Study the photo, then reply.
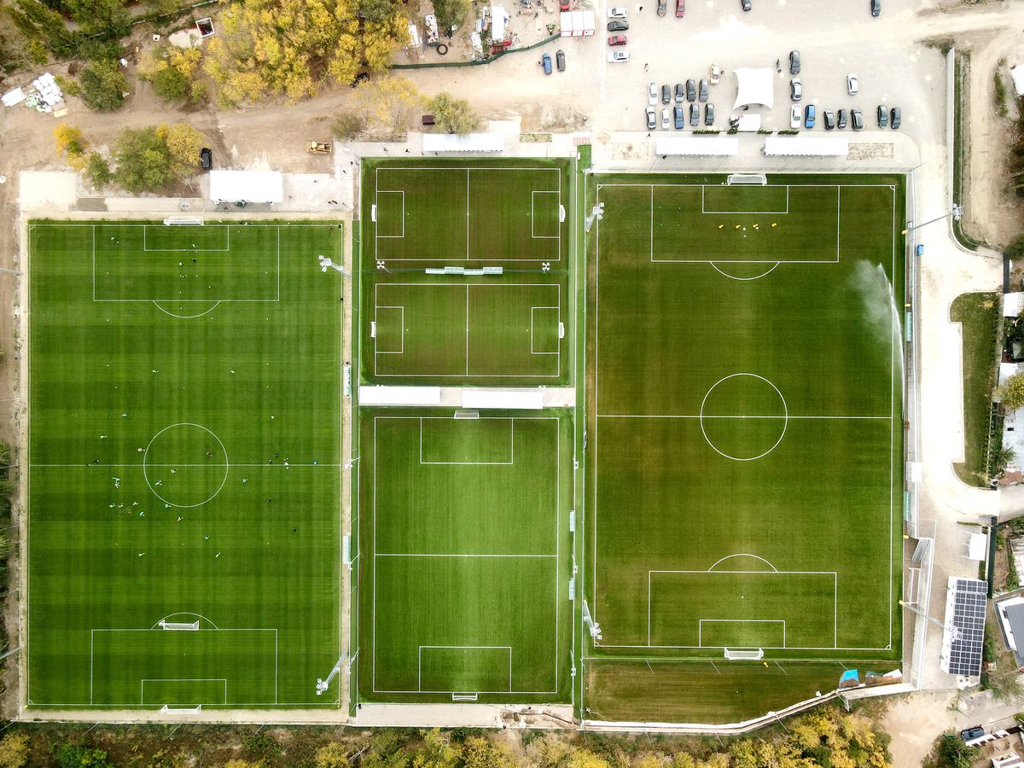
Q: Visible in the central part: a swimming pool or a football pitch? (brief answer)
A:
football pitch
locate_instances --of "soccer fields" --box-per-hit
[360,159,570,273]
[360,273,570,387]
[585,174,906,663]
[26,219,344,711]
[359,408,575,705]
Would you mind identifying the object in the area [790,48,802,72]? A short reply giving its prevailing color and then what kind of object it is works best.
gray vehicle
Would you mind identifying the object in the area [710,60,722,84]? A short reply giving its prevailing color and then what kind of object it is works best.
white vehicle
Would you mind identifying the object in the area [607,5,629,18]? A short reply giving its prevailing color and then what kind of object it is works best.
white vehicle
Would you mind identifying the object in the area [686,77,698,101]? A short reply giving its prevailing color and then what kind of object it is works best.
gray vehicle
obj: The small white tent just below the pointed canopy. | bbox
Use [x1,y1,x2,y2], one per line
[735,115,761,135]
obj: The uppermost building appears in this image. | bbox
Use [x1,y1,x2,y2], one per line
[561,9,596,38]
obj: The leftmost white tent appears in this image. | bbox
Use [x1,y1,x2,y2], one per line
[210,171,288,206]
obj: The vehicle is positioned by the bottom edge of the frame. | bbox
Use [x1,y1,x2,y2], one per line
[962,727,988,743]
